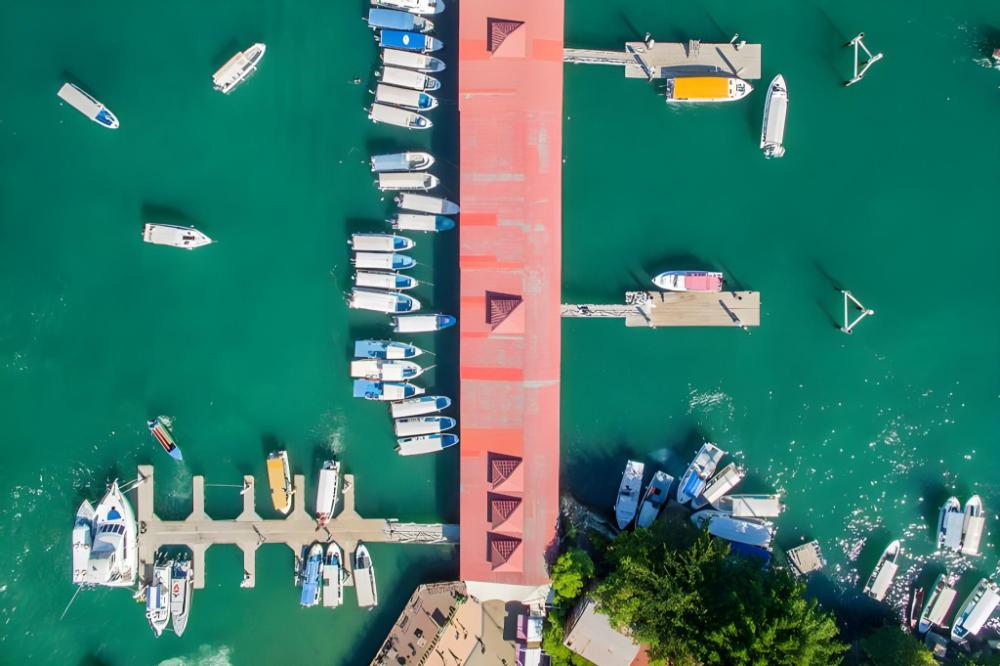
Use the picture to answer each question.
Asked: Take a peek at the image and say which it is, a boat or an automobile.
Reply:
boat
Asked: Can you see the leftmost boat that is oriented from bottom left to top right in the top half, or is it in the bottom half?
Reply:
top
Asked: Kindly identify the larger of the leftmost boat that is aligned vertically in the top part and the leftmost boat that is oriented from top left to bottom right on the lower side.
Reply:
the leftmost boat that is aligned vertically in the top part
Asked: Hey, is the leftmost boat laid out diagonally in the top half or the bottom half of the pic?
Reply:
top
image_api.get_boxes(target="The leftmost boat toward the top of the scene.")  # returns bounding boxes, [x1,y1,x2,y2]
[53,80,121,129]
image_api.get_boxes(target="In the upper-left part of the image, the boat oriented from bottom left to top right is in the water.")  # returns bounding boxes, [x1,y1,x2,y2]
[213,43,267,94]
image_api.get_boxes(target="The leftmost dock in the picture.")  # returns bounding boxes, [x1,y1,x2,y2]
[138,465,387,599]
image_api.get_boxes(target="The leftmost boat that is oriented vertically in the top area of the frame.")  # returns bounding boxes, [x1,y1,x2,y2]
[761,73,790,157]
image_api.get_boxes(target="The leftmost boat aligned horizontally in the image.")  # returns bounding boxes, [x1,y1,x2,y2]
[139,224,215,248]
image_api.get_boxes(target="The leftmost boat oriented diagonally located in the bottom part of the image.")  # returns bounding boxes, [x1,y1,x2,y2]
[148,418,184,460]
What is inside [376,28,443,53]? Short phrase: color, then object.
blue boat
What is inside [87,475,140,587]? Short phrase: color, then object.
white boat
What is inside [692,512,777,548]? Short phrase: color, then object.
blue boat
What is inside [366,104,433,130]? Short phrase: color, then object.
white boat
